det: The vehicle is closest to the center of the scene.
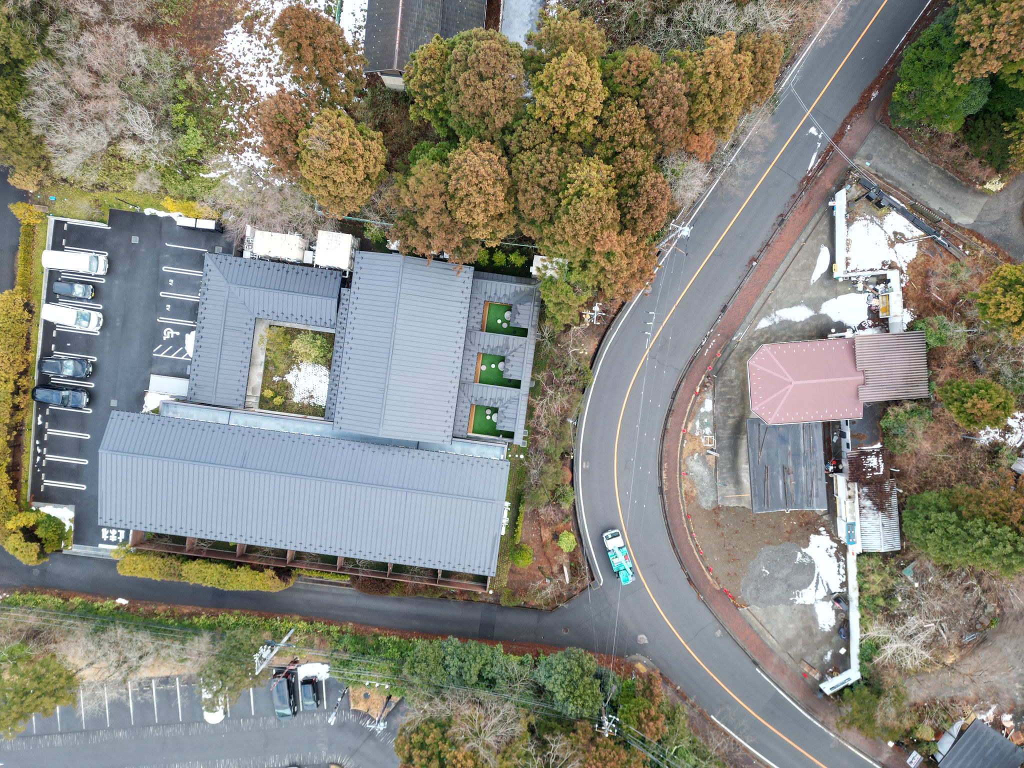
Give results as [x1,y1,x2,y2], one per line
[600,528,638,593]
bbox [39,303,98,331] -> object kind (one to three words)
vehicle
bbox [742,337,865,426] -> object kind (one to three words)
building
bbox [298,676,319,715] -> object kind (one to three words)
car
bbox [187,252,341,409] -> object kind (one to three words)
building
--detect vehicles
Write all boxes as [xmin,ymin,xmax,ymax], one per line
[206,706,229,723]
[34,357,91,381]
[48,279,91,299]
[39,303,98,331]
[298,676,319,715]
[37,250,103,277]
[29,385,89,411]
[272,668,298,721]
[600,528,638,593]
